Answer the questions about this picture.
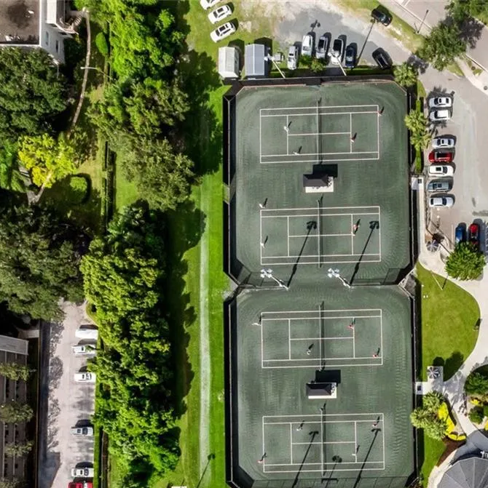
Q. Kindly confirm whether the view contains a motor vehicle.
Yes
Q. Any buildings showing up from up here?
Yes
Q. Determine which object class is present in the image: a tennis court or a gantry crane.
tennis court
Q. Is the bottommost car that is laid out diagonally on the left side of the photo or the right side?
right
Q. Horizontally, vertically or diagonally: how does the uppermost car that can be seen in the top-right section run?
diagonally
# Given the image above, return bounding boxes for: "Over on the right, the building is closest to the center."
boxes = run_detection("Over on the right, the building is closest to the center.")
[304,172,334,190]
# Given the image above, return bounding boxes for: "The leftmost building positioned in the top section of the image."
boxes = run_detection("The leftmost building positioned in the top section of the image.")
[0,0,75,63]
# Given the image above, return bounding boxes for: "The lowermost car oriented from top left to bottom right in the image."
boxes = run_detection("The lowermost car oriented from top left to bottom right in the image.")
[372,46,392,71]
